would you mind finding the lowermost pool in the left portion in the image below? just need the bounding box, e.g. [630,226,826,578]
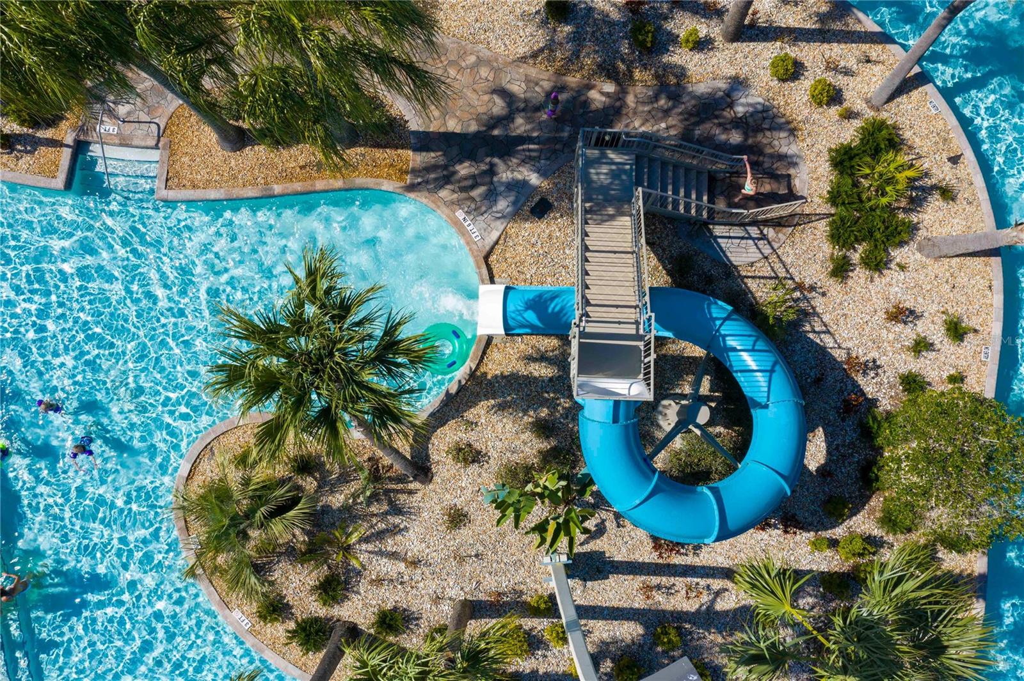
[0,144,480,681]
